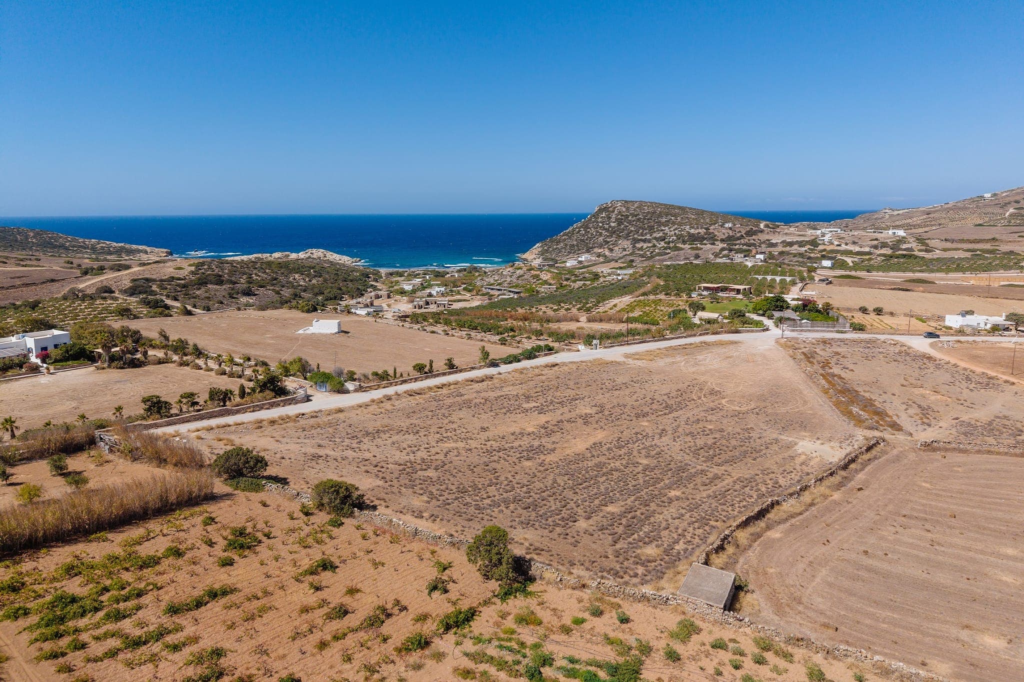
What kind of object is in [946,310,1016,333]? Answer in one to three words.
house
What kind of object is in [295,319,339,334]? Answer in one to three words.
building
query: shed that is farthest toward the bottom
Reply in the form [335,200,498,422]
[677,563,736,627]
